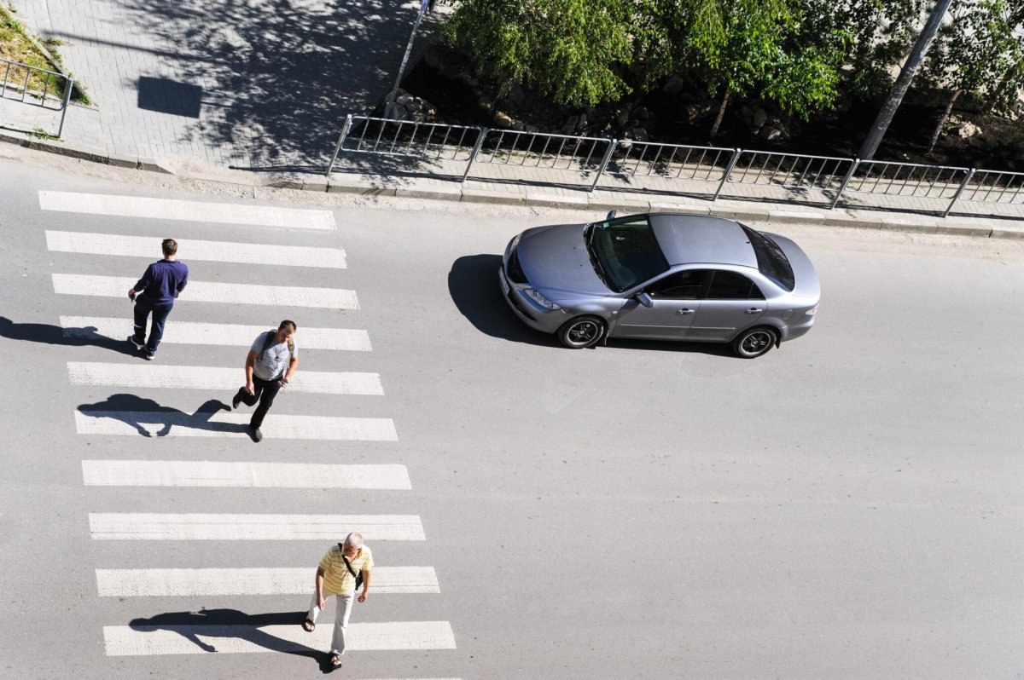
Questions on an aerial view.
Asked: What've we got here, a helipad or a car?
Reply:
car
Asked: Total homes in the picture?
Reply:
0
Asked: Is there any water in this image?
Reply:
No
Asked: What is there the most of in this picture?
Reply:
paved ground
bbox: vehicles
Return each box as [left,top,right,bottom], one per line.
[493,205,822,359]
